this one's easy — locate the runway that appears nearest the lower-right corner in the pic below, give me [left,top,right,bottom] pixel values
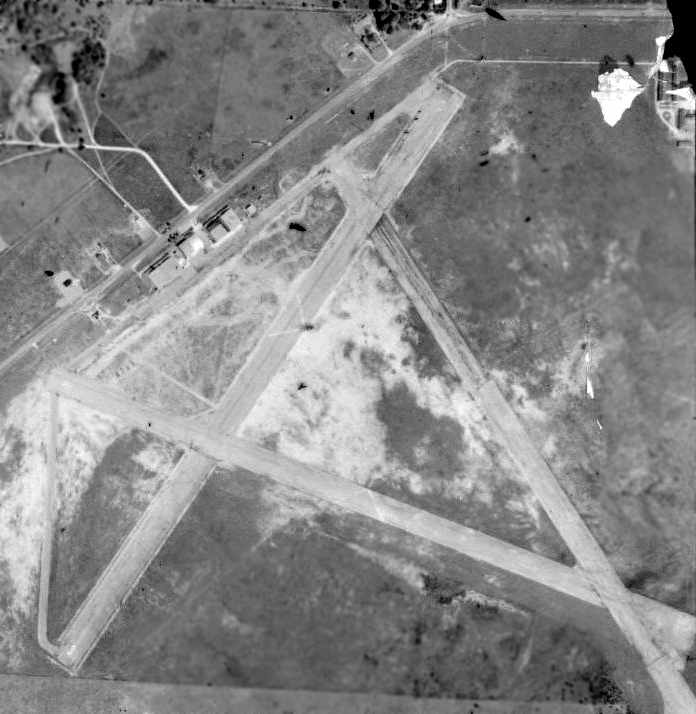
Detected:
[475,373,696,714]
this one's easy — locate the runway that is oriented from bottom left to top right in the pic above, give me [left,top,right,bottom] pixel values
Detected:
[60,85,461,667]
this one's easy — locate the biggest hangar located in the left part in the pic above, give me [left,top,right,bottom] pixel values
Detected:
[149,257,181,288]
